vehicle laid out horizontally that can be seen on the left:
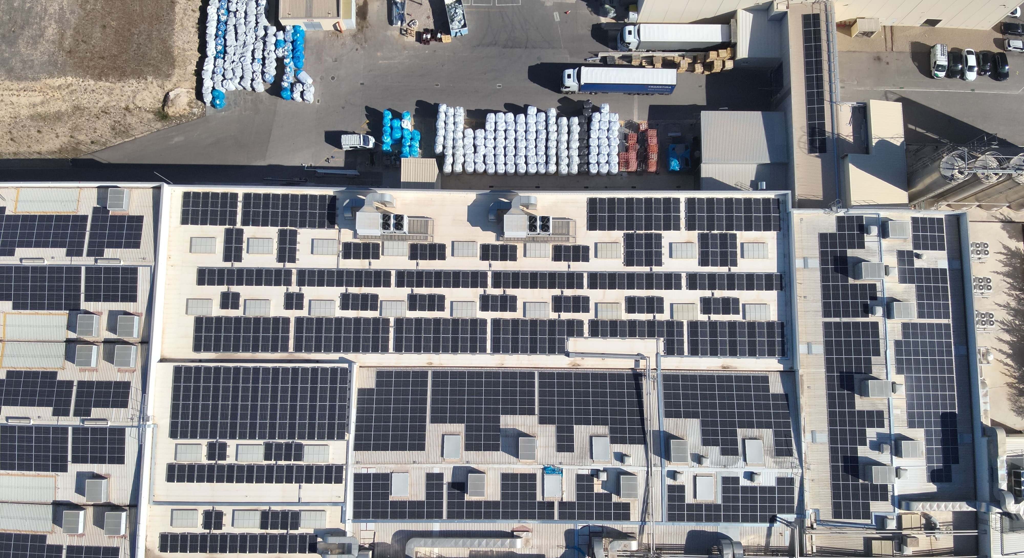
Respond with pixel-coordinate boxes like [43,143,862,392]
[341,134,376,151]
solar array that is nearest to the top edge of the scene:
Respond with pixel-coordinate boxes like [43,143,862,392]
[803,13,826,153]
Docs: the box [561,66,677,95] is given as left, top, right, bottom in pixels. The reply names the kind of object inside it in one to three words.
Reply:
truck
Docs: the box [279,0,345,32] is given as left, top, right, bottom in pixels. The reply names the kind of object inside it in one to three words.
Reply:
building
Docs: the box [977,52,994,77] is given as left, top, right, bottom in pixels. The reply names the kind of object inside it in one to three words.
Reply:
car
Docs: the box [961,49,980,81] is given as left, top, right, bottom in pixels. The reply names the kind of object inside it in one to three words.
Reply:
car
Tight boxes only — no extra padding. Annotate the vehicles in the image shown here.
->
[947,51,964,80]
[1004,7,1020,19]
[1003,22,1024,37]
[561,66,677,95]
[341,134,376,151]
[617,24,730,52]
[1005,39,1024,53]
[977,52,994,77]
[992,52,1012,83]
[961,49,980,81]
[929,43,950,80]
